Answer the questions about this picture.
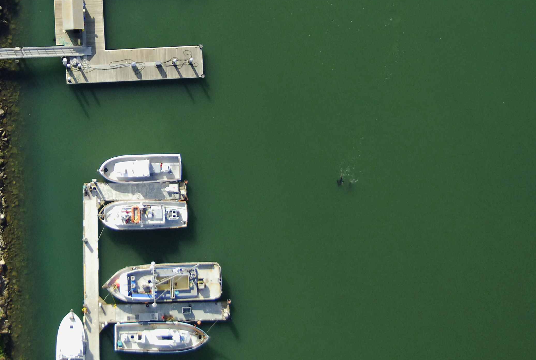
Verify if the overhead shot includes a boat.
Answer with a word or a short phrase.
Yes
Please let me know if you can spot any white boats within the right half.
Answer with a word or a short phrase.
No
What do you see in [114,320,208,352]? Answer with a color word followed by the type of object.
white boat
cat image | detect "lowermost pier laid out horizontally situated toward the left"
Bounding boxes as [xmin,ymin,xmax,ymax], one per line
[99,297,229,332]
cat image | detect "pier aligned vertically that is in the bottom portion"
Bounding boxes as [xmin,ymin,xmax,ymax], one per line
[84,183,100,360]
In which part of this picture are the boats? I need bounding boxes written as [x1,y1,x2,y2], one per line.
[102,261,222,307]
[56,309,87,360]
[98,200,187,229]
[97,154,181,182]
[114,320,208,352]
